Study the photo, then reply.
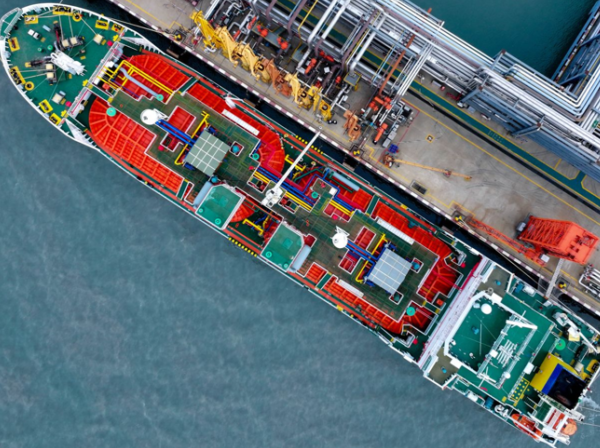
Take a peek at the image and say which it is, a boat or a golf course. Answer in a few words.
boat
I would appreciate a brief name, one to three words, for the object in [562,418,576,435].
boat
